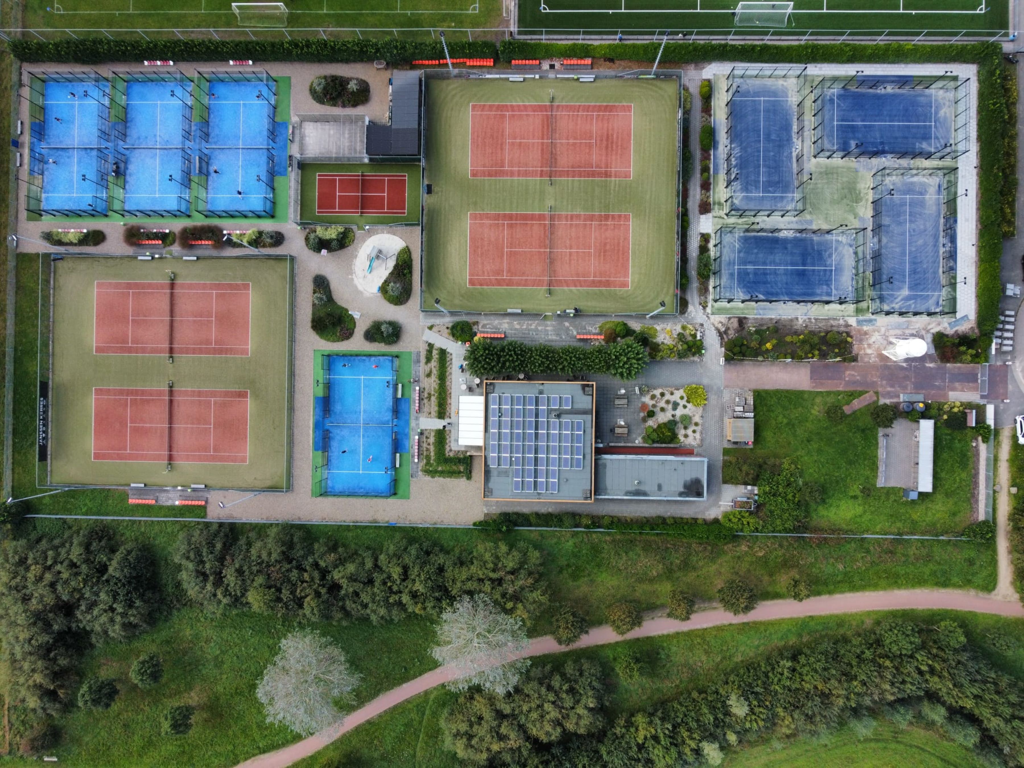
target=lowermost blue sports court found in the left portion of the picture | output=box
[312,354,398,498]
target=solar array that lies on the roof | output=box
[490,394,584,492]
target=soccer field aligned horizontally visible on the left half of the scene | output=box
[22,0,510,40]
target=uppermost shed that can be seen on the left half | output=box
[366,71,421,159]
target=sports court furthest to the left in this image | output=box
[13,70,111,217]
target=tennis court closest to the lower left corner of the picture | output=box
[92,382,249,469]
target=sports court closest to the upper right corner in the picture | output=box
[813,67,970,160]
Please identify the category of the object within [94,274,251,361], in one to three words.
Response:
tennis court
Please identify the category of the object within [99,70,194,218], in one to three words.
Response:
sports court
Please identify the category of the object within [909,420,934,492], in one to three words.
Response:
shed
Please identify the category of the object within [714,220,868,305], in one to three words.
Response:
sports court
